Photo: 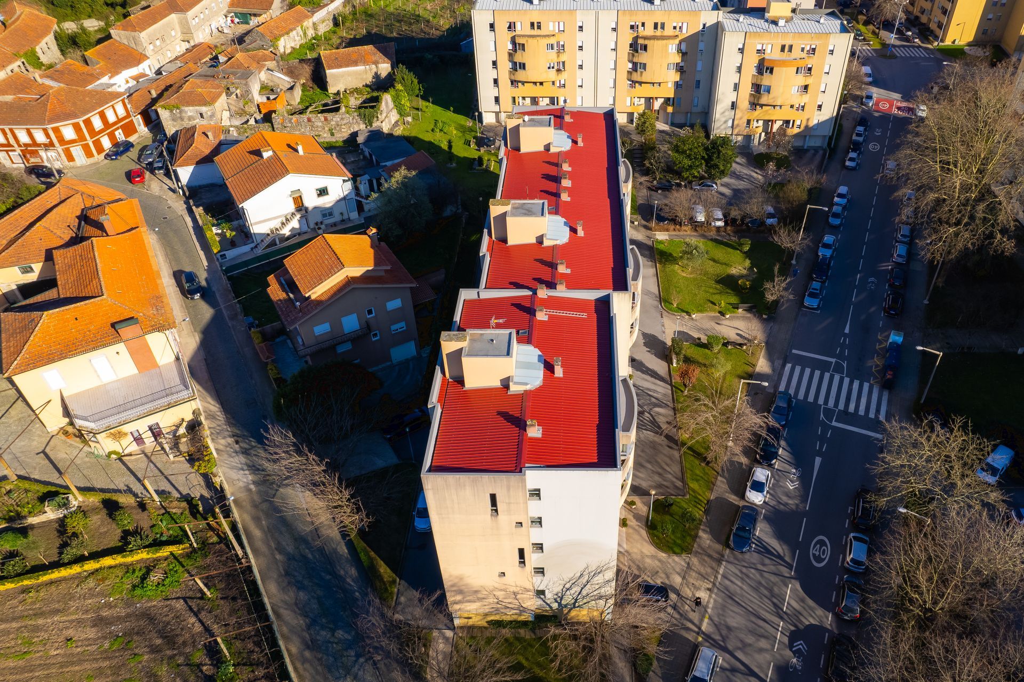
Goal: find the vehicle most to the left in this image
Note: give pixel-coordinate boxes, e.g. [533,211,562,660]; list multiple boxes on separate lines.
[30,166,60,179]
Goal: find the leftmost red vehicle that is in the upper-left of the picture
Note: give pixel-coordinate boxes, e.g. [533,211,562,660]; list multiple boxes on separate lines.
[126,171,151,184]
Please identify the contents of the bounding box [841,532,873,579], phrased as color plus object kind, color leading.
blue car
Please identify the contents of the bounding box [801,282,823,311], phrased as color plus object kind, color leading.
blue car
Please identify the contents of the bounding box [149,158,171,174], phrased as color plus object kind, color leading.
black car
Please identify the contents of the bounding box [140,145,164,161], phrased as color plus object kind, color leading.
gray car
